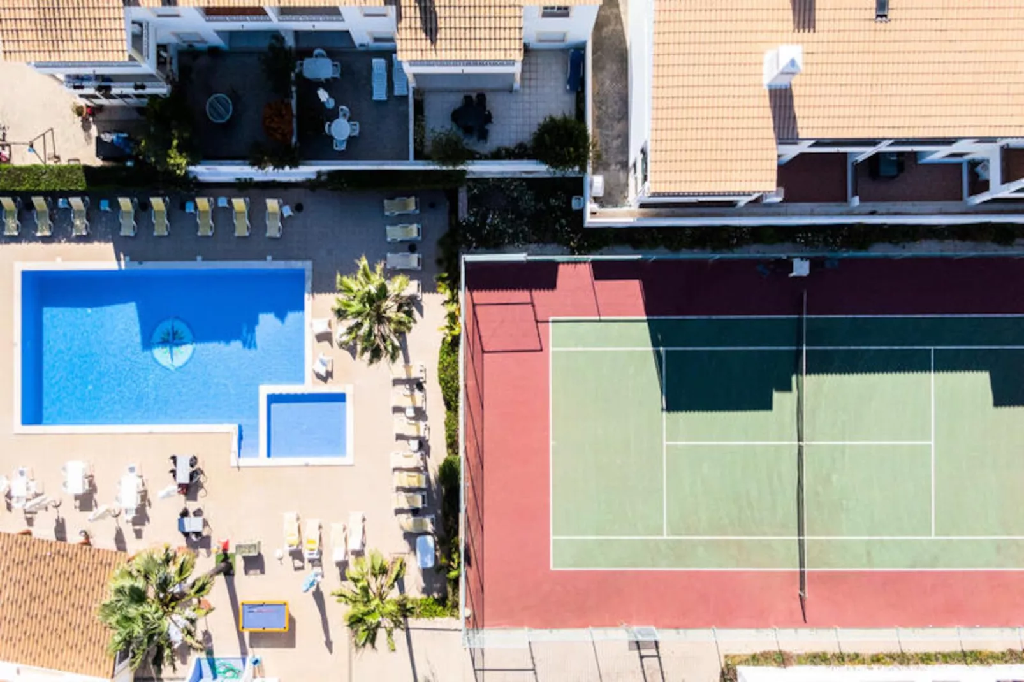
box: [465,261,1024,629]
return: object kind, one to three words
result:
tennis court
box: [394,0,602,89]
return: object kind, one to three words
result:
house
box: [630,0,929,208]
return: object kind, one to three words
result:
house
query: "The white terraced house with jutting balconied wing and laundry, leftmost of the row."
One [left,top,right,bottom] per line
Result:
[0,0,188,110]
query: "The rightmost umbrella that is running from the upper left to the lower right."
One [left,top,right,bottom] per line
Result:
[318,87,336,108]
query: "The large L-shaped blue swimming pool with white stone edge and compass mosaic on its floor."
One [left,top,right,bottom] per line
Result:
[13,256,313,465]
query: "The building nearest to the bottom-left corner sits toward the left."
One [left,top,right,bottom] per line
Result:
[0,531,128,682]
